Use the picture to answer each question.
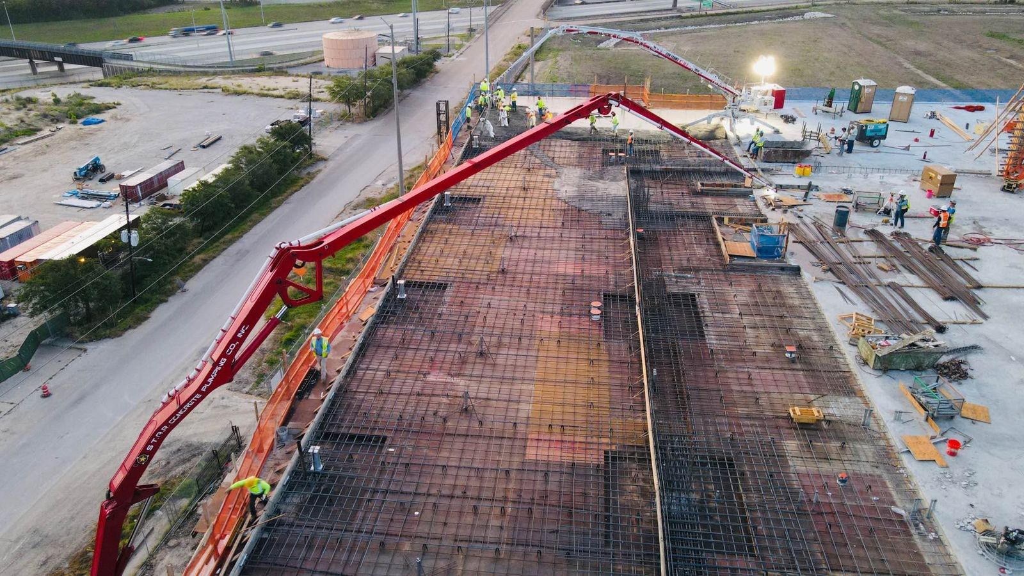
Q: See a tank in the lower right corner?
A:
No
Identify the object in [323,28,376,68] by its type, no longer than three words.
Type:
storage tank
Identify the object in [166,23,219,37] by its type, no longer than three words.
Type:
vehicle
